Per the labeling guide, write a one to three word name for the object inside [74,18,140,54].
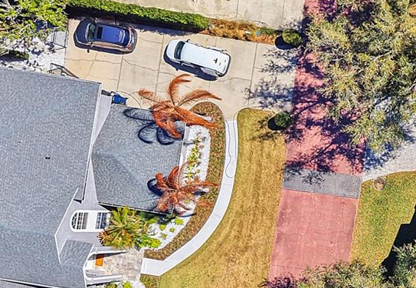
car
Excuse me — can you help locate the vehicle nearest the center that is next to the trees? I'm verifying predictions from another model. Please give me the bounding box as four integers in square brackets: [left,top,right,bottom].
[163,36,235,80]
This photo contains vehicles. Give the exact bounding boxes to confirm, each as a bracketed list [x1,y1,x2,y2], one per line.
[74,18,140,54]
[163,36,235,80]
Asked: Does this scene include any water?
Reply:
No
